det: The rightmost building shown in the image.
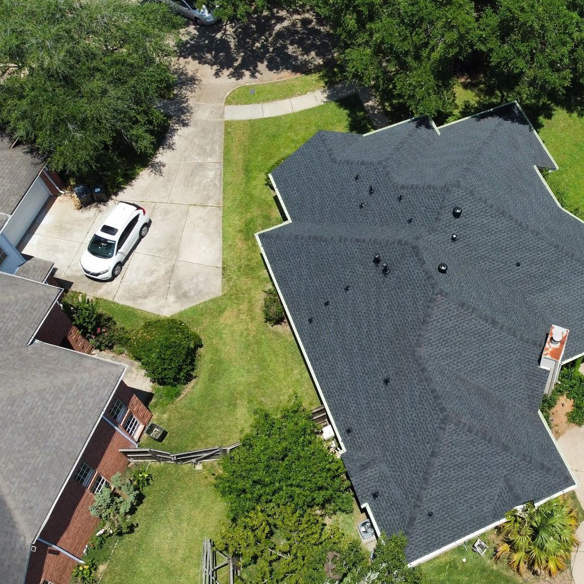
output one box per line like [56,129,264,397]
[253,99,584,564]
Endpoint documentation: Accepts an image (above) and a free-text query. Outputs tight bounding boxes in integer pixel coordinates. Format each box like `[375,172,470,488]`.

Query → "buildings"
[0,131,167,584]
[253,99,584,564]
